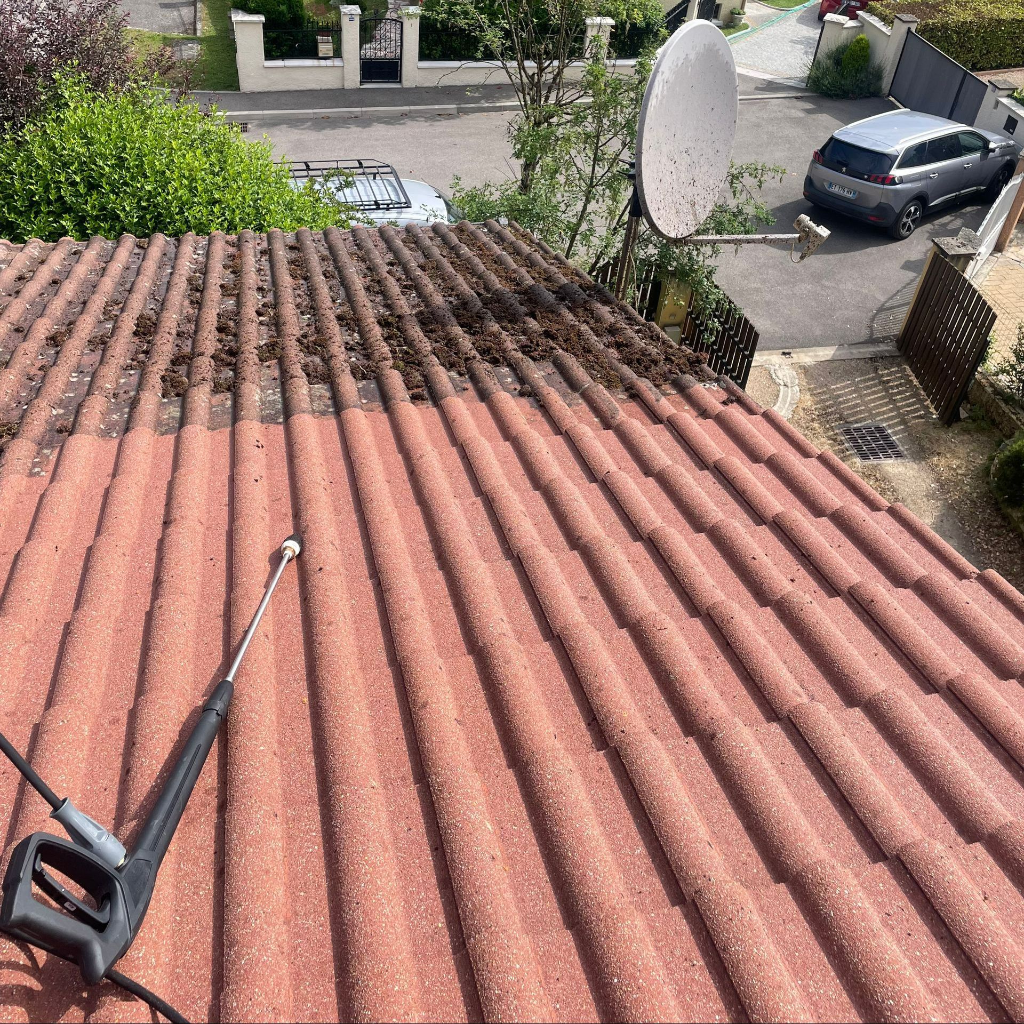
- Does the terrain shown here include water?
No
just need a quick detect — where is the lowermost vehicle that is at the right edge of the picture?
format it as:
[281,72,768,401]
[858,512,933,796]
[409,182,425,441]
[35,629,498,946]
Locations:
[795,102,1020,238]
